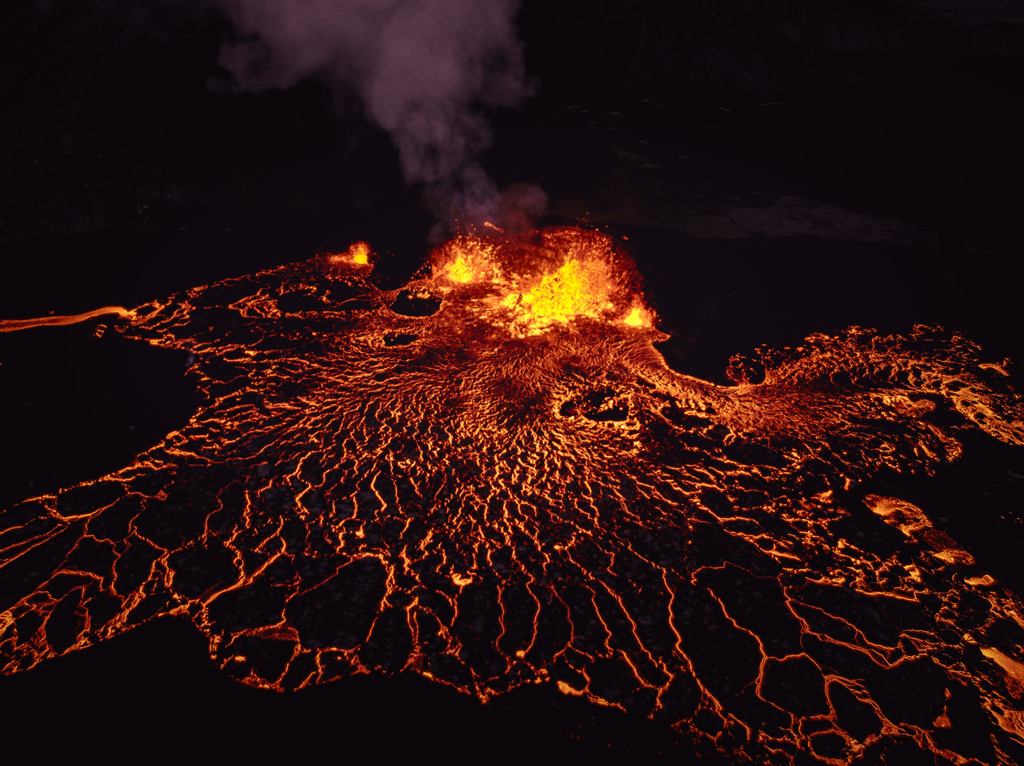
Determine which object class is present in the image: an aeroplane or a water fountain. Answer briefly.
water fountain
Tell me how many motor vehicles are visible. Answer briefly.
0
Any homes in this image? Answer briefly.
No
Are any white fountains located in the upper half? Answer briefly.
No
